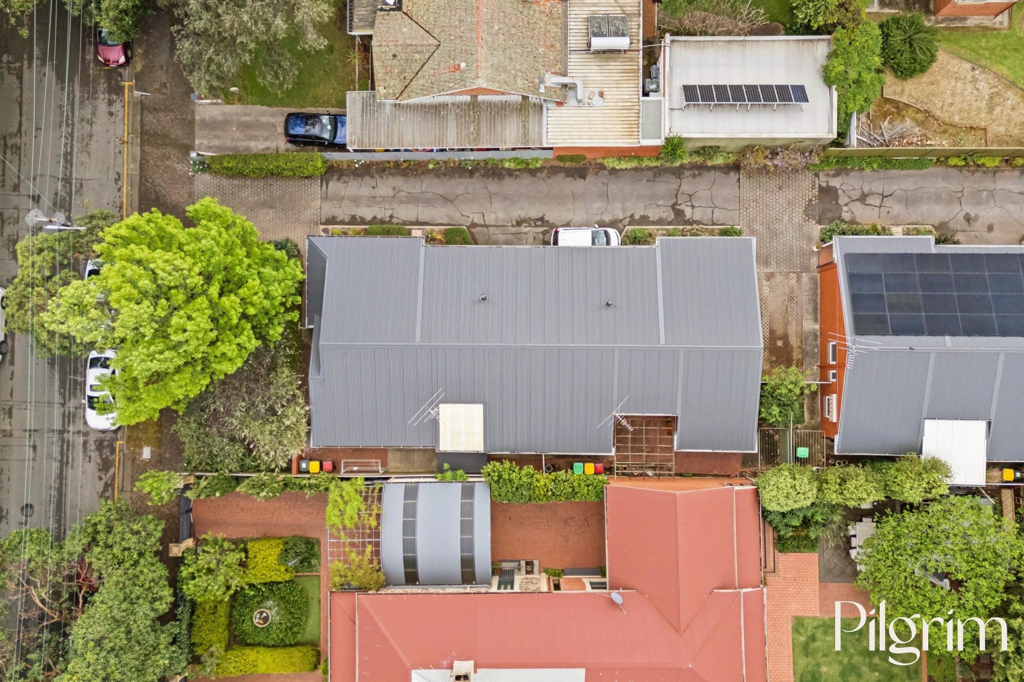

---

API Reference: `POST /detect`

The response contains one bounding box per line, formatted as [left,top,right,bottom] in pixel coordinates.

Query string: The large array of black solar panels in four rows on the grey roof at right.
[844,252,1024,337]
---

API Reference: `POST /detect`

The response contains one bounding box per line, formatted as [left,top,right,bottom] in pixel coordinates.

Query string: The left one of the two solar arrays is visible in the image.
[669,84,808,111]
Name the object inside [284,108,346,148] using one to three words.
car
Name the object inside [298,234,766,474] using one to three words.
house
